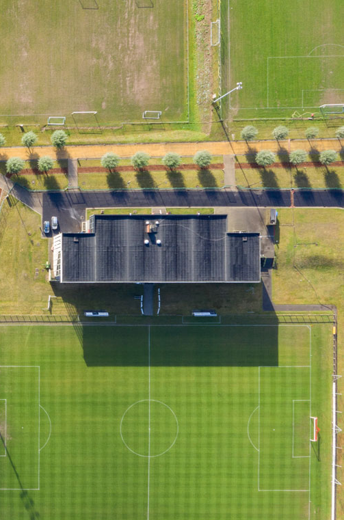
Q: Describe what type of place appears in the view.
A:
sports ground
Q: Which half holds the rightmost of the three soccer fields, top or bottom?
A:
top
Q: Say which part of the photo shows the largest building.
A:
center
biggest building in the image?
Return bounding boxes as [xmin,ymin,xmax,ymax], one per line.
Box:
[52,215,261,285]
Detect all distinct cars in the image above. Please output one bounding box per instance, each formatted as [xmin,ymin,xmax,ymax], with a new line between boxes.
[51,216,58,231]
[43,220,50,233]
